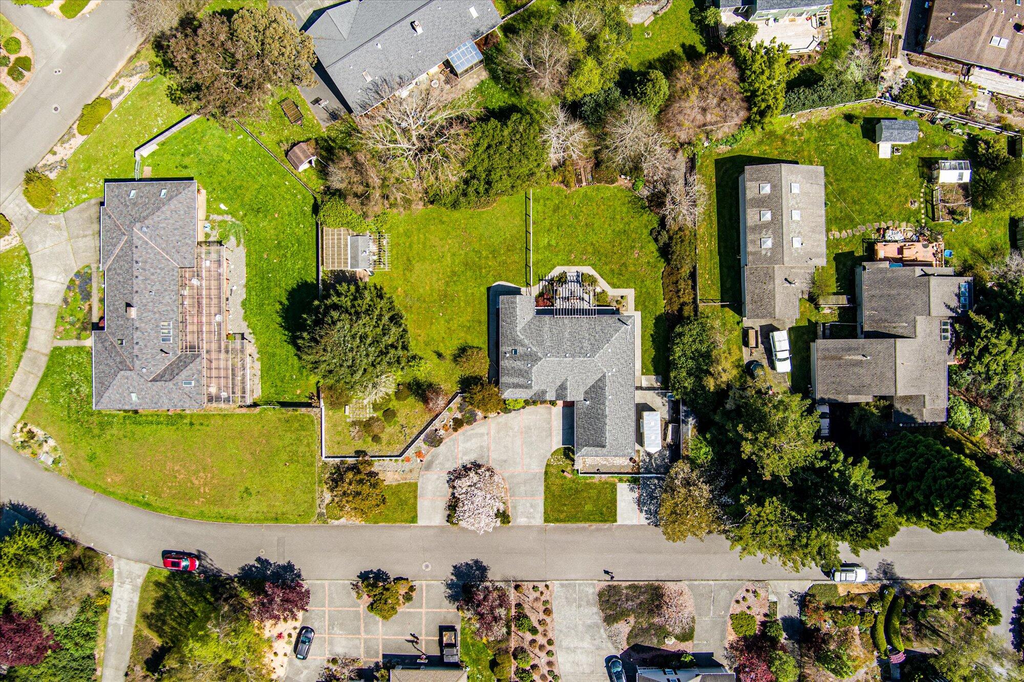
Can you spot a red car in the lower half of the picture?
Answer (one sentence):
Yes, a red car is visible in the lower half of the picture.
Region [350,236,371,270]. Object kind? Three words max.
shed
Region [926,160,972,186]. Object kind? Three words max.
greenhouse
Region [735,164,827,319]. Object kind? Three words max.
house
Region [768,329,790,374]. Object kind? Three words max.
truck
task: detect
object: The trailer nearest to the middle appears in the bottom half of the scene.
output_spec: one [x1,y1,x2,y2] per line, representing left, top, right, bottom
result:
[640,410,663,458]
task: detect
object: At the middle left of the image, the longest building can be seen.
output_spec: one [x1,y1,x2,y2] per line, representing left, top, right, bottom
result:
[92,178,210,409]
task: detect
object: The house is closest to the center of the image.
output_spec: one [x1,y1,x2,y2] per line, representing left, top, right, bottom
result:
[499,296,636,457]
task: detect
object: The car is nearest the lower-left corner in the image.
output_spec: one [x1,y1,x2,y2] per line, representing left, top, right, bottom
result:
[162,552,201,571]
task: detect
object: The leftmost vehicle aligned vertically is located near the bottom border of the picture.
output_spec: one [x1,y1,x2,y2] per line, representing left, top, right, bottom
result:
[295,624,315,661]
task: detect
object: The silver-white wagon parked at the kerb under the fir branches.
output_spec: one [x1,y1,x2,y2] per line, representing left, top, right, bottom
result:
[828,565,864,583]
